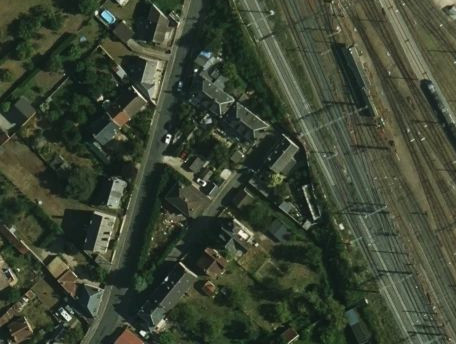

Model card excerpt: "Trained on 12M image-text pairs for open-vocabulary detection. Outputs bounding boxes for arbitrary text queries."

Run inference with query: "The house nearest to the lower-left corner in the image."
[2,313,33,344]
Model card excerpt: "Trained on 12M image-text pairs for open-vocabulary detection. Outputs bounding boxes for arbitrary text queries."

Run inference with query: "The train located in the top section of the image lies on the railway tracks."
[427,81,456,134]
